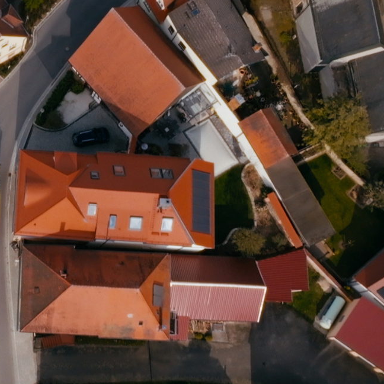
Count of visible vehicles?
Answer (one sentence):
I count 2 vehicles.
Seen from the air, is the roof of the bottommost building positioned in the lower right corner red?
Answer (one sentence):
Yes, the roof of the bottommost building positioned in the lower right corner appears red.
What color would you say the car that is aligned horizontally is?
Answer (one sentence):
In this view, the car that is aligned horizontally is black.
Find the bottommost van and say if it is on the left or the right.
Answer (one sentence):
You can find the bottommost van on the right side of the picture.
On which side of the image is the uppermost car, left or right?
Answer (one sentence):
The uppermost car appears in the left half of the scene.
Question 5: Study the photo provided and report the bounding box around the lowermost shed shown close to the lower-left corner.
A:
[41,335,74,348]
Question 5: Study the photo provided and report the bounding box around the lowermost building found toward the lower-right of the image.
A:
[327,297,384,372]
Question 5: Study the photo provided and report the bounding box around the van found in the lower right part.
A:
[312,293,348,333]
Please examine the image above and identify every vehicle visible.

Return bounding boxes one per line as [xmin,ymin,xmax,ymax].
[71,127,111,148]
[312,293,348,333]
